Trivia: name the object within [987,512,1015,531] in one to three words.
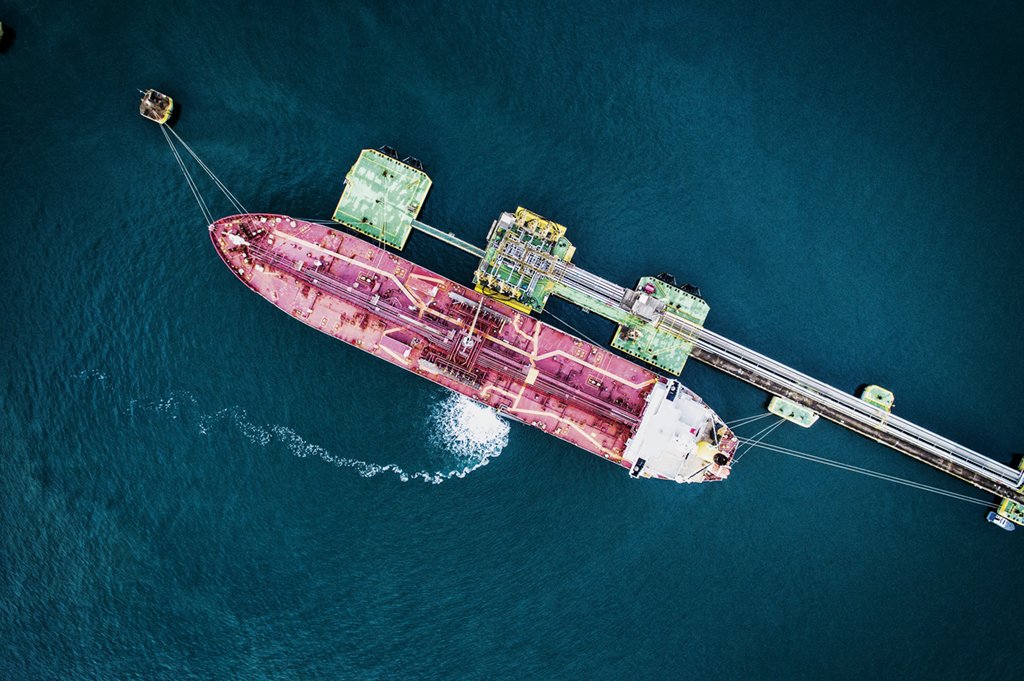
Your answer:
boat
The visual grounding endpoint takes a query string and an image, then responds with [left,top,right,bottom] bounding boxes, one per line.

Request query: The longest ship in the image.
[208,213,741,484]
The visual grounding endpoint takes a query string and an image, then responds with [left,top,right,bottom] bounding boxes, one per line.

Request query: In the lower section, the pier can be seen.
[689,333,1024,507]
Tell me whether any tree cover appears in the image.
No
